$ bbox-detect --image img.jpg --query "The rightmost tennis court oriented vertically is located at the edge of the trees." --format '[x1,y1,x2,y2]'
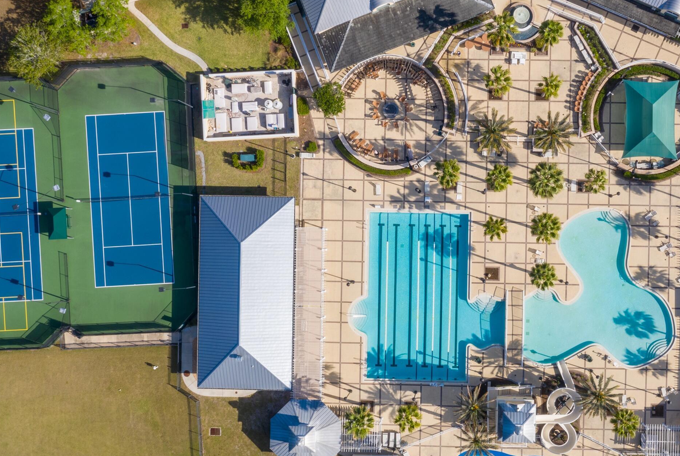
[58,65,194,333]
